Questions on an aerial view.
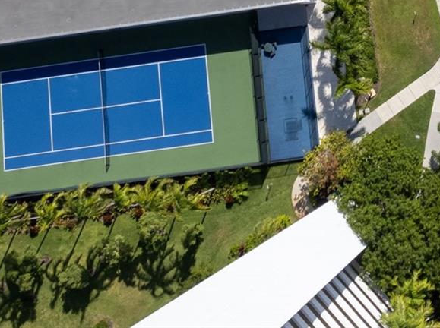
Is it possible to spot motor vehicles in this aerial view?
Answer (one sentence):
No, I can see no motor vehicle in this picture.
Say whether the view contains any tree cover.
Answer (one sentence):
Yes, the picture does contain tree cover.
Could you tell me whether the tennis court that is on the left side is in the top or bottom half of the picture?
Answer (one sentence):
The top half of the photo is where the tennis court that is on the left side is.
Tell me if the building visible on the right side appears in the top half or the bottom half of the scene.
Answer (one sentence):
You can find the building visible on the right side in the bottom half.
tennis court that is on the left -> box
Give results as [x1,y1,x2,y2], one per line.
[0,10,275,197]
